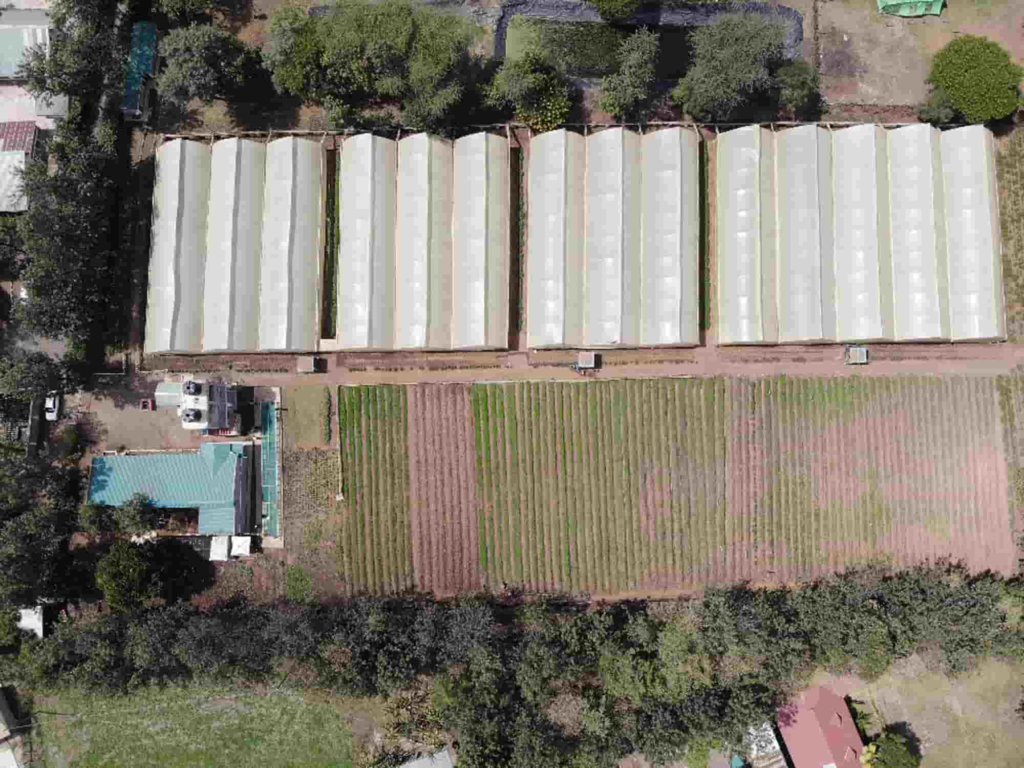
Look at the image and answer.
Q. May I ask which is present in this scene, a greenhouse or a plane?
greenhouse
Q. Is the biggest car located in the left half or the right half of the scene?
left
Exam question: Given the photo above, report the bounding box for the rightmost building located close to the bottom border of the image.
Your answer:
[774,689,872,768]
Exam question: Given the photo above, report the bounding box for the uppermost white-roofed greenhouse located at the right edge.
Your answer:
[711,125,1008,346]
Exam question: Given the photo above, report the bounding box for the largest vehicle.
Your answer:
[43,391,63,422]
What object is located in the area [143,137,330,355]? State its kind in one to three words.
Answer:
greenhouse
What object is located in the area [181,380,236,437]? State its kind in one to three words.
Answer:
house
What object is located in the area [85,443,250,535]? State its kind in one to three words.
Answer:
house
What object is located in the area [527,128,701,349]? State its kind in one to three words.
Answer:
greenhouse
